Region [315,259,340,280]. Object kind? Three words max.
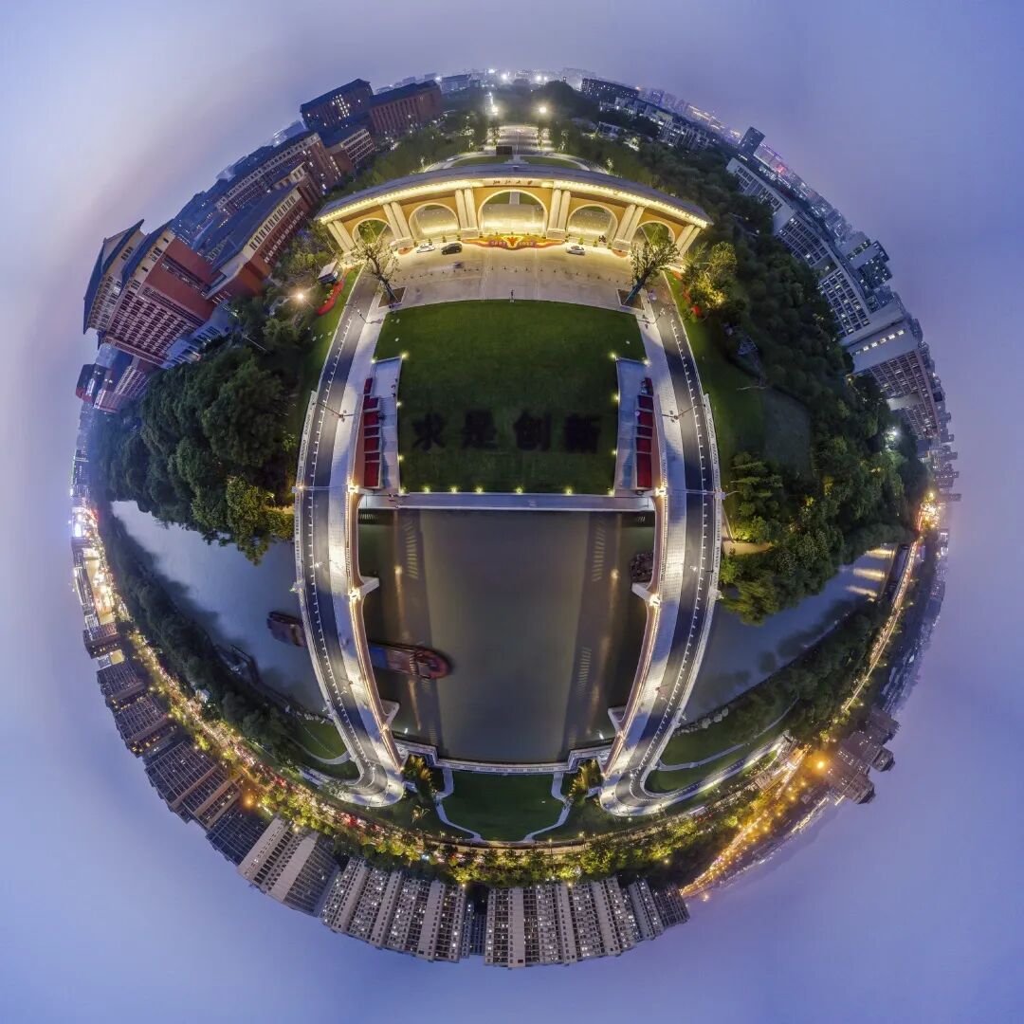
building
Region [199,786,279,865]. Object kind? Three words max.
building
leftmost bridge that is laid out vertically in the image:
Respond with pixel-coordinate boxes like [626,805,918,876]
[207,206,428,814]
